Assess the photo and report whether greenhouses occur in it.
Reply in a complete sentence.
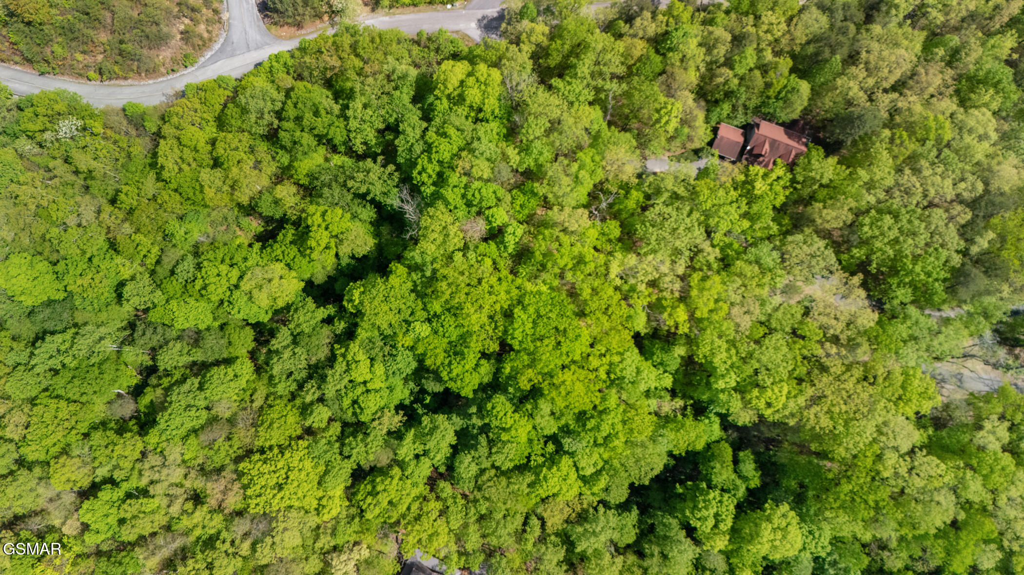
No, no greenhouse is visible in the view.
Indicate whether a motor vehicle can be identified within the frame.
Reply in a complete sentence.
No, there is no motor vehicle in the image.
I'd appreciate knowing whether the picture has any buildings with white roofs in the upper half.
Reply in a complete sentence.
No, there's no building with a white roof to be seen in the upper half.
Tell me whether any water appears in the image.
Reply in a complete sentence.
No, water can't be seen anywhere here.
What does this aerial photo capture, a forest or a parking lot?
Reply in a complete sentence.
This looks like a forest.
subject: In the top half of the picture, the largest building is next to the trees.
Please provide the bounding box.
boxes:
[739,112,812,177]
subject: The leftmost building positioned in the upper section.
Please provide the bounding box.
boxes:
[712,123,745,158]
